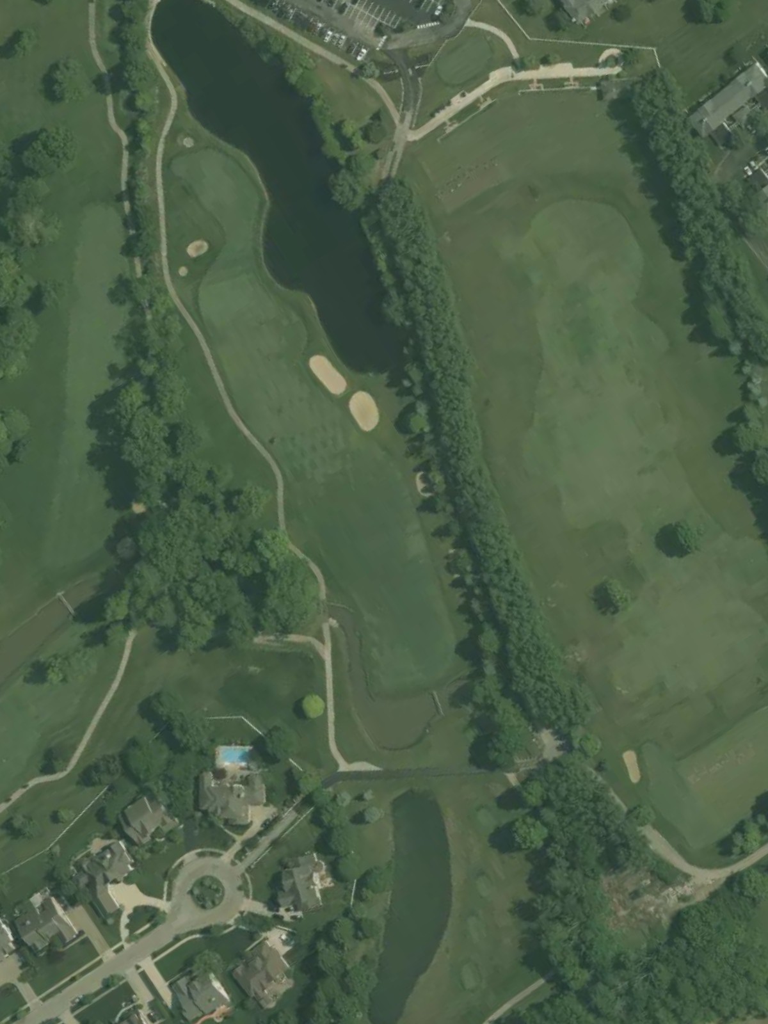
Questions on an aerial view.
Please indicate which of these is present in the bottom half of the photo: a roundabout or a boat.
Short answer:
roundabout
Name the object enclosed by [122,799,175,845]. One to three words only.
house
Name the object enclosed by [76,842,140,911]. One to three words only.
house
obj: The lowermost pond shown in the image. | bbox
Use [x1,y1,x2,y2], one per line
[373,791,451,1024]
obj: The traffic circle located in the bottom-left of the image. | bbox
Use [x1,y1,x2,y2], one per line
[172,855,243,925]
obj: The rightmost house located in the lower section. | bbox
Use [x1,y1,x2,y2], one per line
[276,855,328,914]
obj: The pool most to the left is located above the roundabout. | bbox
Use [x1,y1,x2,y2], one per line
[220,747,248,765]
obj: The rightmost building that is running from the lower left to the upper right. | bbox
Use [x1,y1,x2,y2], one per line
[686,62,768,141]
